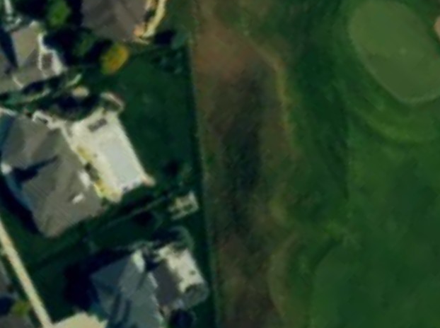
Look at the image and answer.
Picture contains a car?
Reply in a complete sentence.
No, the frame has no car in it.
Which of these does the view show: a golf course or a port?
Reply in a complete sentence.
This looks like a golf course.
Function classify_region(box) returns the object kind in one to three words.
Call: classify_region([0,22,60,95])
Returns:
house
